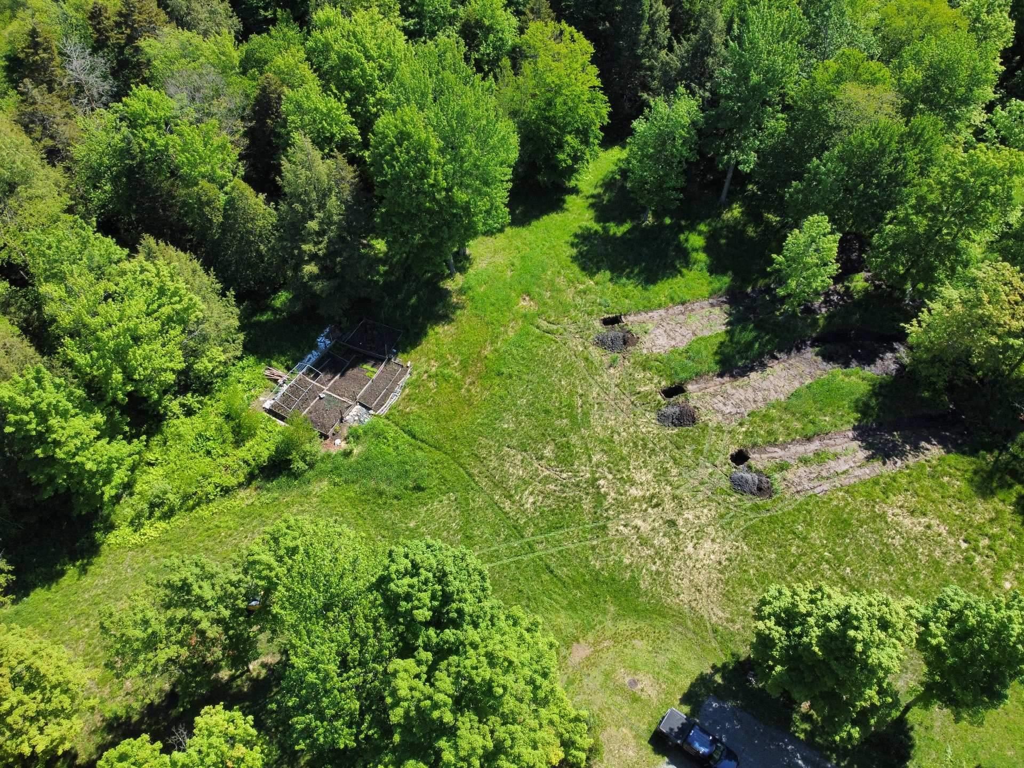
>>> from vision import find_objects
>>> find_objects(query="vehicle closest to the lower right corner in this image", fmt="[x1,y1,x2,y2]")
[657,707,739,768]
